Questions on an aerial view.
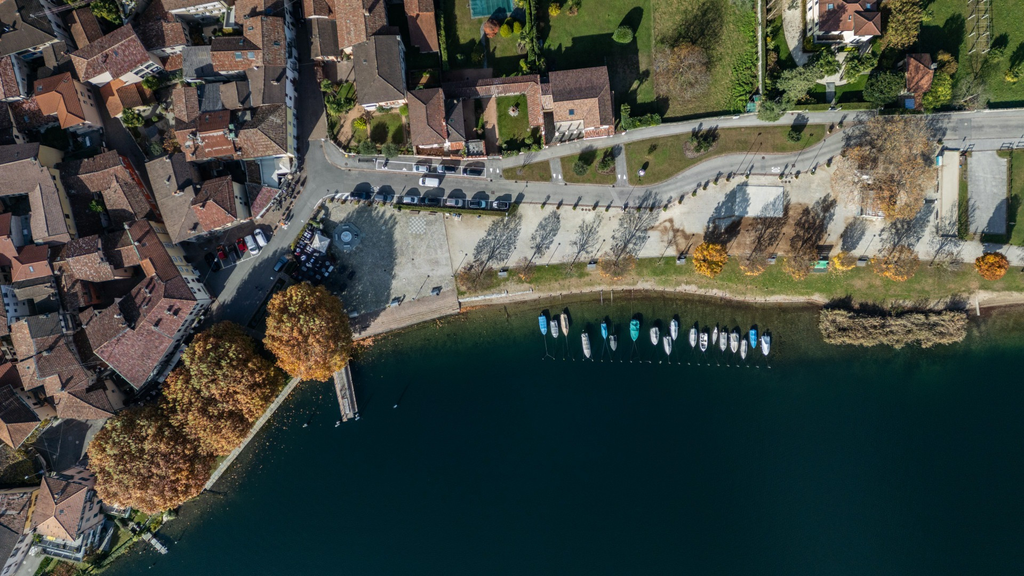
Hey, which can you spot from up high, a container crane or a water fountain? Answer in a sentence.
Of the two, only a water fountain appears.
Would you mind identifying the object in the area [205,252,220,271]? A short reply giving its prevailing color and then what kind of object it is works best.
black car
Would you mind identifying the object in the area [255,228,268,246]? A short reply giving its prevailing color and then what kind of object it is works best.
white vehicle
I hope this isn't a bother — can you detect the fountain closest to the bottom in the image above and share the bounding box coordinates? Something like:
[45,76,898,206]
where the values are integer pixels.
[334,223,360,249]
